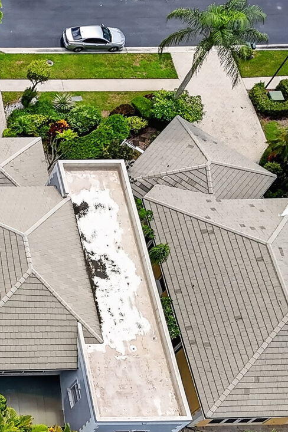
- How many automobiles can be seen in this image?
one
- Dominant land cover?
buildings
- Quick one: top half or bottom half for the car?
top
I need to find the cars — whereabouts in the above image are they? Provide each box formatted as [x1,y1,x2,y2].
[57,20,123,50]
